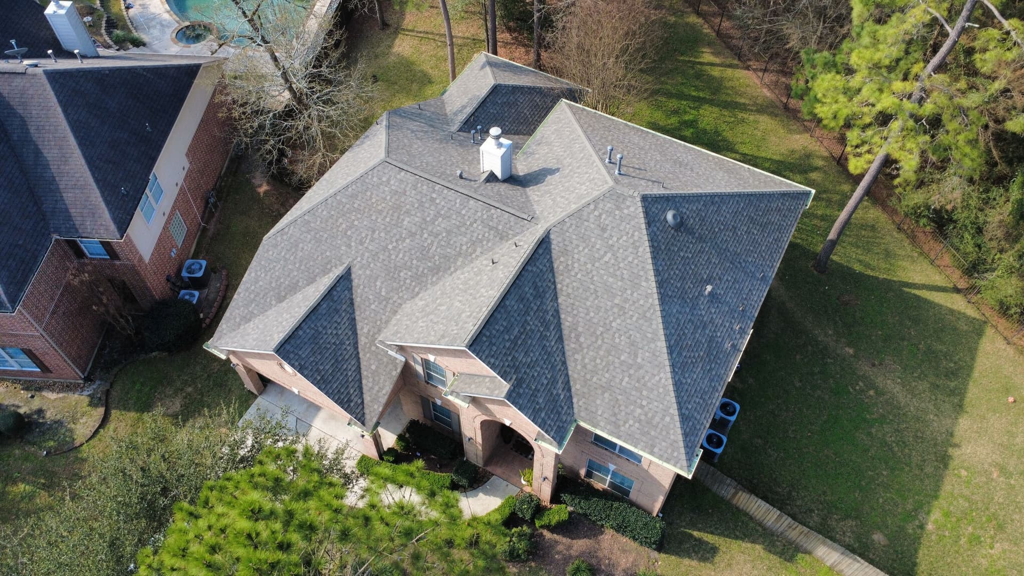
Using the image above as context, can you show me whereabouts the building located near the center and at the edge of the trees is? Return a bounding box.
[203,51,817,520]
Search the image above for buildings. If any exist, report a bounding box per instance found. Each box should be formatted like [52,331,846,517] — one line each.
[203,51,817,520]
[0,0,233,379]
